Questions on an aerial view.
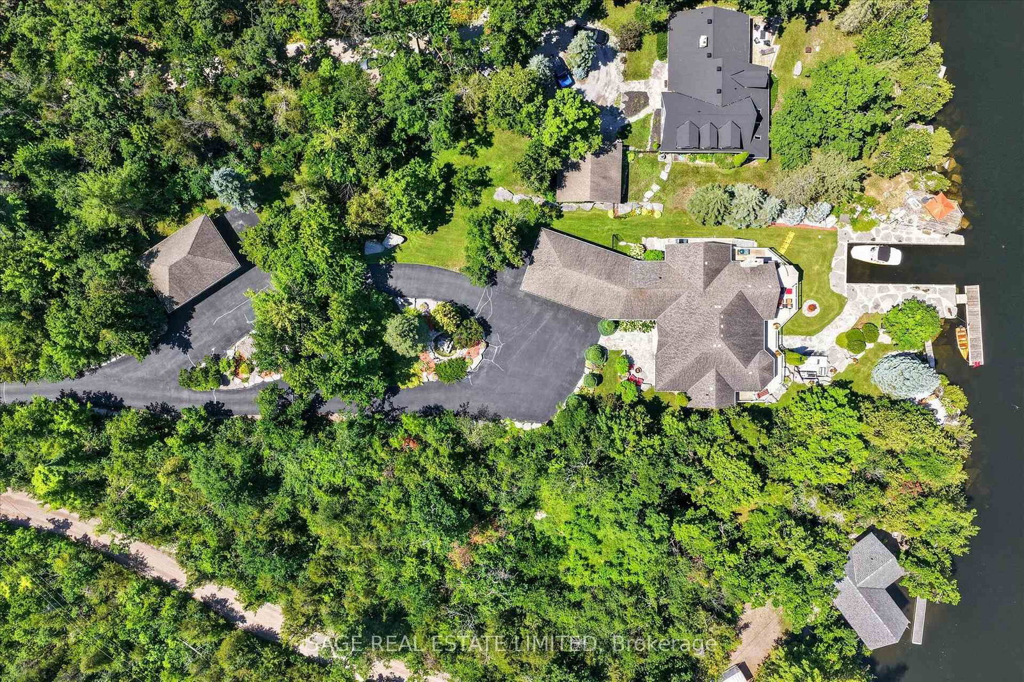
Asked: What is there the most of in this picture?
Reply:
trees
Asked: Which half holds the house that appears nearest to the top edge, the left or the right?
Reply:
right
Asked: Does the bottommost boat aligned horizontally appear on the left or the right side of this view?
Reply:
right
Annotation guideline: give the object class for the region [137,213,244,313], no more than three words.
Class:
building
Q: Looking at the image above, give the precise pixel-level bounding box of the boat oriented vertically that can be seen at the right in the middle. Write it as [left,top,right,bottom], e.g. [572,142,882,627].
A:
[954,323,969,359]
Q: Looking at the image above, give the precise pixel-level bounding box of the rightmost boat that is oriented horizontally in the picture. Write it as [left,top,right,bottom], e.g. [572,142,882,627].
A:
[851,246,905,266]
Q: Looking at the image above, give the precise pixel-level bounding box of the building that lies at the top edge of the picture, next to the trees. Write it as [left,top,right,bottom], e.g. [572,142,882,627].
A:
[660,6,772,160]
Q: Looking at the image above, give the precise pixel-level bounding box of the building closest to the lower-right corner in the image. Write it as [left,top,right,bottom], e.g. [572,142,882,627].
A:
[825,533,913,651]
